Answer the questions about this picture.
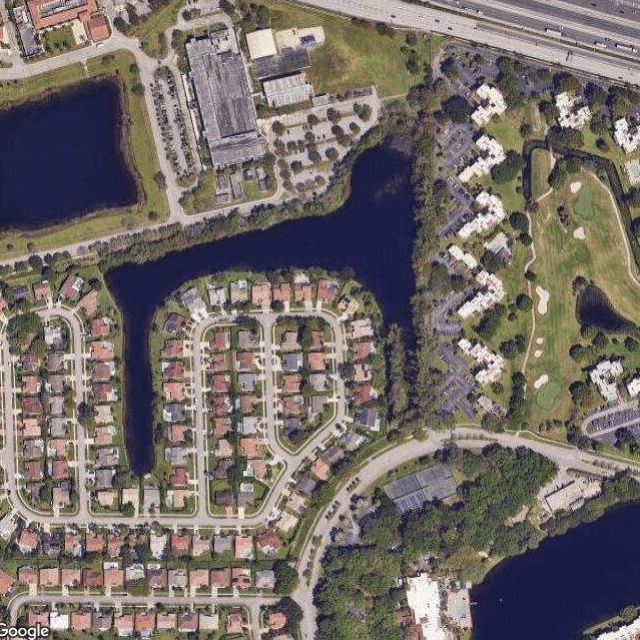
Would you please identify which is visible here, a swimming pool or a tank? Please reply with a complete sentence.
The image shows a swimming pool.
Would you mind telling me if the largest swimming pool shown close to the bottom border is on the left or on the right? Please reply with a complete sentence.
The largest swimming pool shown close to the bottom border appears in the right half of the scene.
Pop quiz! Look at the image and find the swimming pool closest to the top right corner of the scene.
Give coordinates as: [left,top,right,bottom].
[625,159,640,185]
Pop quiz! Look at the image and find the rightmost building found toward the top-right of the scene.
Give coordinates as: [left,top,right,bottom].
[614,118,640,154]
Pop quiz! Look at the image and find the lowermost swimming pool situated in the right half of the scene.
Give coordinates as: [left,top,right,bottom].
[448,589,471,627]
